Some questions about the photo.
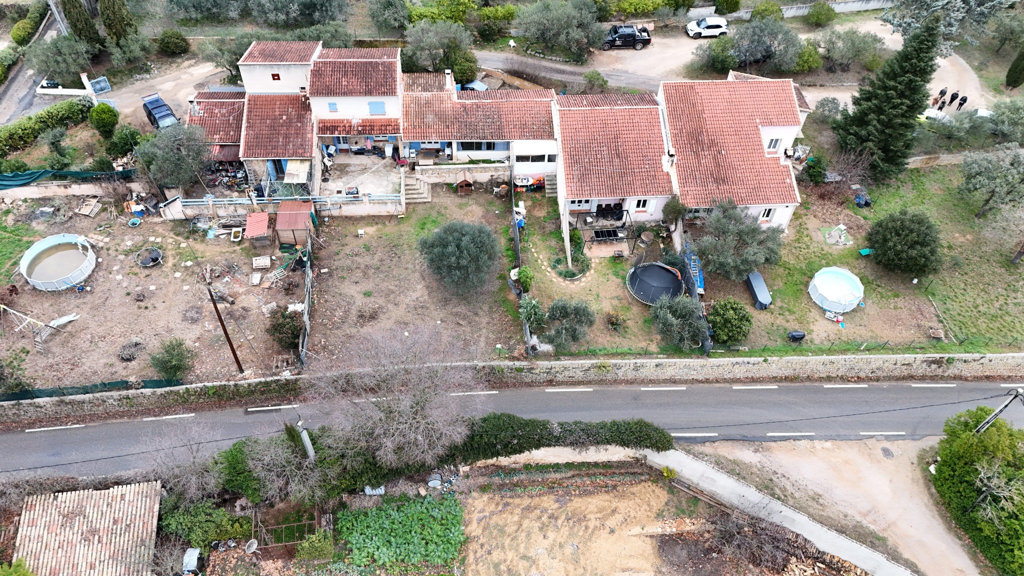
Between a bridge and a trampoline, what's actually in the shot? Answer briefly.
trampoline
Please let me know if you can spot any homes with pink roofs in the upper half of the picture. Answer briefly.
Yes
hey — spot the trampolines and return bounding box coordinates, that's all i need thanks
[132,247,162,268]
[625,260,686,306]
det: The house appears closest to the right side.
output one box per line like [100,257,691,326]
[650,69,812,237]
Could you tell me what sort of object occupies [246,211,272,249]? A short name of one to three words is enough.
shed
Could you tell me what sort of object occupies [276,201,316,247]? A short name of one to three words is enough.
shed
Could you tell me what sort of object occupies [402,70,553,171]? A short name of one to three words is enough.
house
